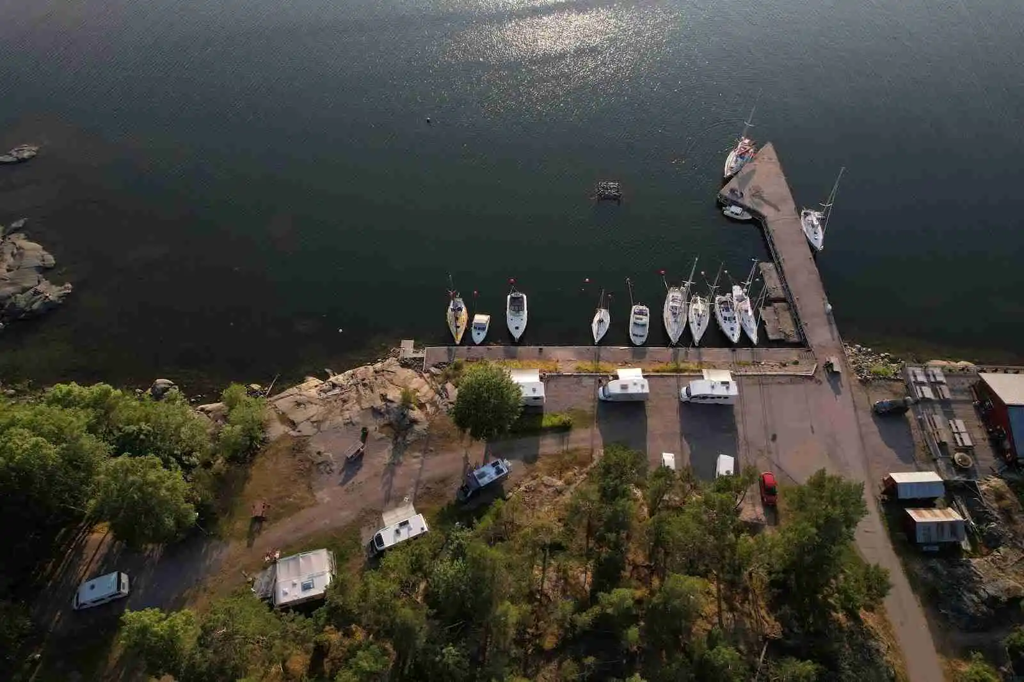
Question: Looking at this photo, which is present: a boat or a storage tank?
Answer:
boat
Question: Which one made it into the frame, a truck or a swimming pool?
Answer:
truck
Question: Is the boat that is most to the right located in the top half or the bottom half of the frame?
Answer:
top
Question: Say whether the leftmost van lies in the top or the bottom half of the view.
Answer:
bottom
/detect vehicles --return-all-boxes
[504,368,545,408]
[758,474,779,506]
[599,365,650,406]
[712,455,735,485]
[74,573,131,611]
[455,455,514,506]
[678,366,739,407]
[868,399,910,420]
[372,502,432,559]
[658,451,677,496]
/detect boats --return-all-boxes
[592,289,609,345]
[471,314,490,346]
[660,258,698,345]
[505,284,528,343]
[629,298,650,346]
[732,284,768,346]
[687,263,724,347]
[712,259,758,345]
[725,105,756,180]
[721,203,751,223]
[796,167,844,251]
[443,274,468,346]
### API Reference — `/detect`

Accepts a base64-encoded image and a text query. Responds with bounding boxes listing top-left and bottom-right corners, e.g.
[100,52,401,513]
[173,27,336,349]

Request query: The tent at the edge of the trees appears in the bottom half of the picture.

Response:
[246,569,276,607]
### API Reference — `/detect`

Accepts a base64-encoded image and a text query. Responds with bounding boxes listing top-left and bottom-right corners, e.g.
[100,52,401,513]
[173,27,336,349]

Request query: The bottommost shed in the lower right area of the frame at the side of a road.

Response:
[901,507,966,546]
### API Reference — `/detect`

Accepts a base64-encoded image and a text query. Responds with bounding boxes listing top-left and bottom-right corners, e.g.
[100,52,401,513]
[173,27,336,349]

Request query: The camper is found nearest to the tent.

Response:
[270,542,343,602]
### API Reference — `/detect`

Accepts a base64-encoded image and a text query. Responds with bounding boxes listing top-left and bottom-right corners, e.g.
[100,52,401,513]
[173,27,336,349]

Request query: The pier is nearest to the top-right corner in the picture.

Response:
[718,144,846,362]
